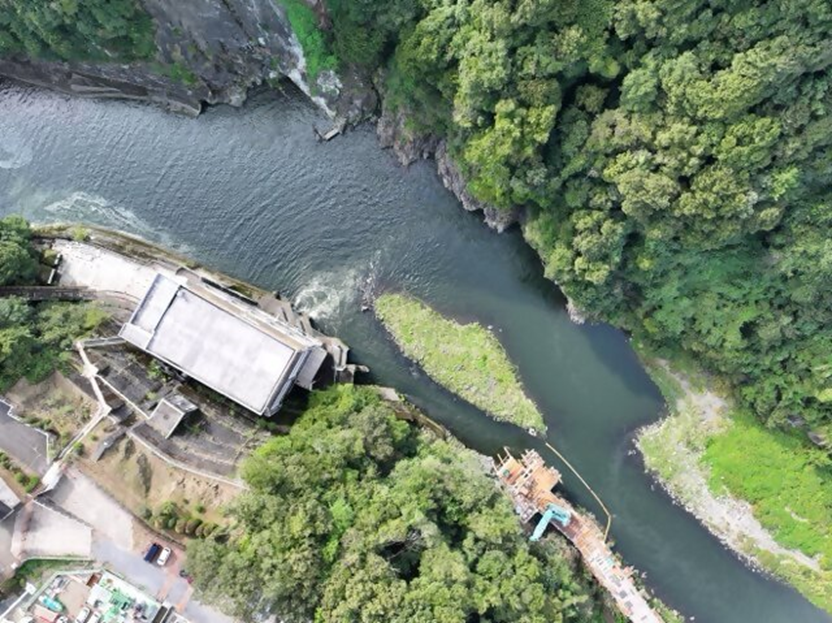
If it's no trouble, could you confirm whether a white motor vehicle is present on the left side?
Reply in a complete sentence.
Yes, a white motor vehicle shows up on the left side.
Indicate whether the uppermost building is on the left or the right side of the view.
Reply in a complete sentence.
It is on the left.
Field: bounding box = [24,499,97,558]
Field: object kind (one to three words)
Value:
building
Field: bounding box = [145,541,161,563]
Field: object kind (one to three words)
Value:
car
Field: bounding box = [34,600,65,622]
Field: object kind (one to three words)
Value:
shed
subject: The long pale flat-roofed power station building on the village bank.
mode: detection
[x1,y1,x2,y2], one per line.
[123,273,332,415]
